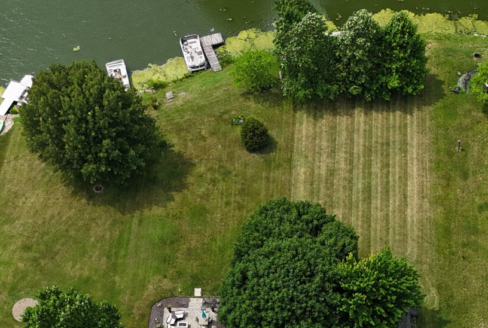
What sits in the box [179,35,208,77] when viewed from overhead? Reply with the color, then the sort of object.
white boat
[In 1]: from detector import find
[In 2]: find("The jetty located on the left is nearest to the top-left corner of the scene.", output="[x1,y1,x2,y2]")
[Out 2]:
[0,79,20,119]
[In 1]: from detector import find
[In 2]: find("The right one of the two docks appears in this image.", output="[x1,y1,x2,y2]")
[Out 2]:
[200,31,226,74]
